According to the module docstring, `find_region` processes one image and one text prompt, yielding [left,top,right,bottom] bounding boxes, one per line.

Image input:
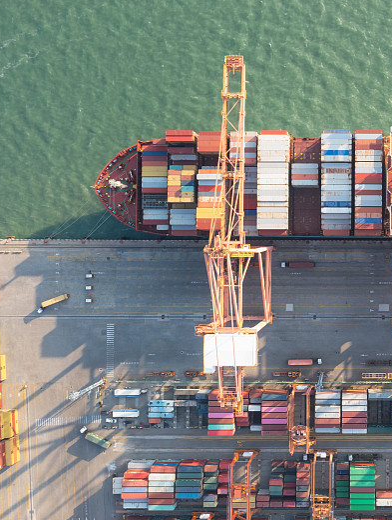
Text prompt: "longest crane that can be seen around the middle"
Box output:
[191,55,283,422]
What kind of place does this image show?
port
